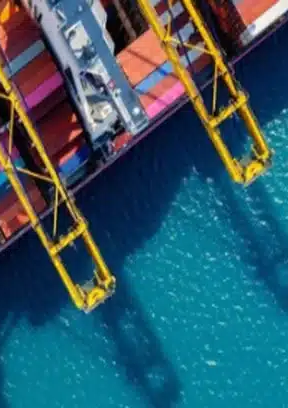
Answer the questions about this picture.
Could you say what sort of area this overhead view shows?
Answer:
port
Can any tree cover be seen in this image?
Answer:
No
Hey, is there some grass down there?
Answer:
No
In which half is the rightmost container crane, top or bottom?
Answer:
top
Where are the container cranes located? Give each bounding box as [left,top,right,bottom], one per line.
[145,0,284,192]
[0,33,124,317]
